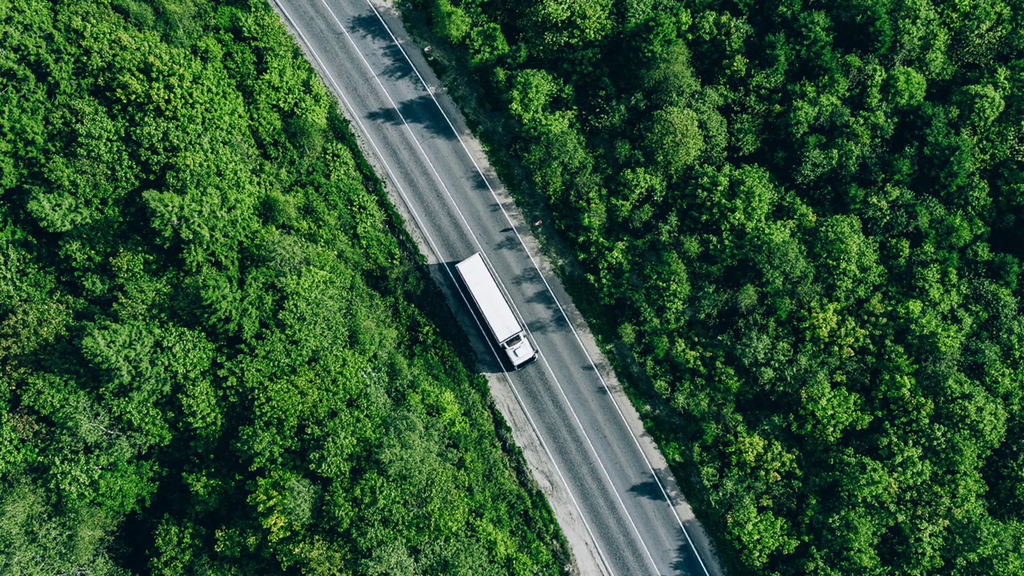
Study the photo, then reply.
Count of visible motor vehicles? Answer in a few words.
one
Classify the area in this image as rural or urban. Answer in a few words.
rural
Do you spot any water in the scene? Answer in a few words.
No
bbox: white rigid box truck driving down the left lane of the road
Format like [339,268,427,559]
[455,252,539,369]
